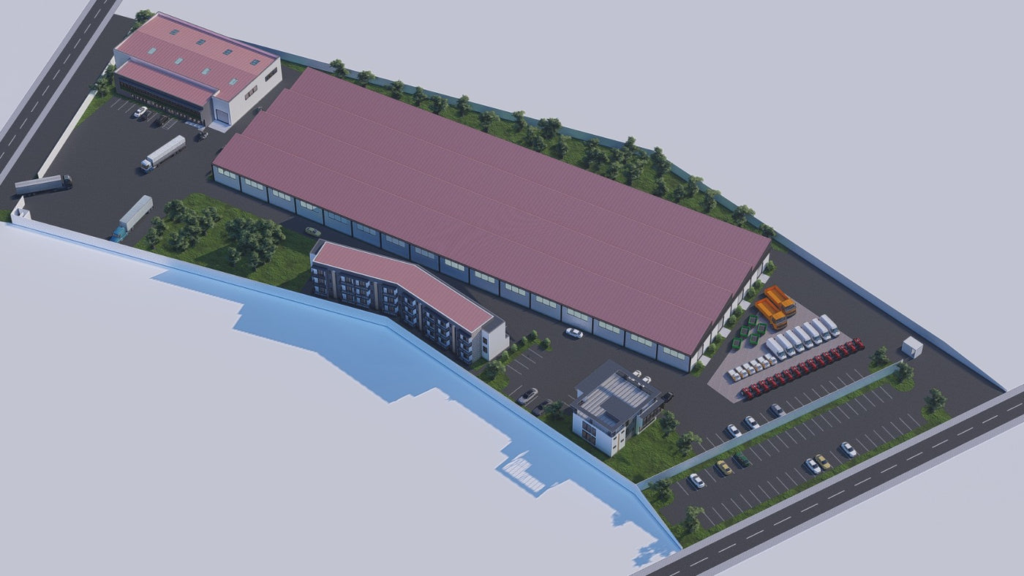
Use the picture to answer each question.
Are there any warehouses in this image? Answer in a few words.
Yes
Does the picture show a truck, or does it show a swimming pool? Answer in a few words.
truck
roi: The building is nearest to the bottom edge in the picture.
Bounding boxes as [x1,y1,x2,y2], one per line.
[571,360,665,457]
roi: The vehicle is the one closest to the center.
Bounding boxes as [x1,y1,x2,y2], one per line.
[564,328,584,340]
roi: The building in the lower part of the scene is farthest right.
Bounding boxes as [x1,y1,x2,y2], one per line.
[901,336,923,358]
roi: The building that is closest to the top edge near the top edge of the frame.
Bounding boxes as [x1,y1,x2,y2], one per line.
[113,11,281,127]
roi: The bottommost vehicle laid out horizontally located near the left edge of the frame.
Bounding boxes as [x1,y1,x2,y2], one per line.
[15,176,73,199]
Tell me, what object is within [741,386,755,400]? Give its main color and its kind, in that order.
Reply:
red work vehicle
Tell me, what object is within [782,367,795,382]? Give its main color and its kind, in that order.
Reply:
red vehicle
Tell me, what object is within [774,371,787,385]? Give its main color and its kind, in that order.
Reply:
red vehicle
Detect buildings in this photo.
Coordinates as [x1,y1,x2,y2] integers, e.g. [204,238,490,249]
[309,238,509,366]
[15,206,38,220]
[211,66,772,372]
[113,11,281,127]
[571,360,665,457]
[901,336,923,358]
